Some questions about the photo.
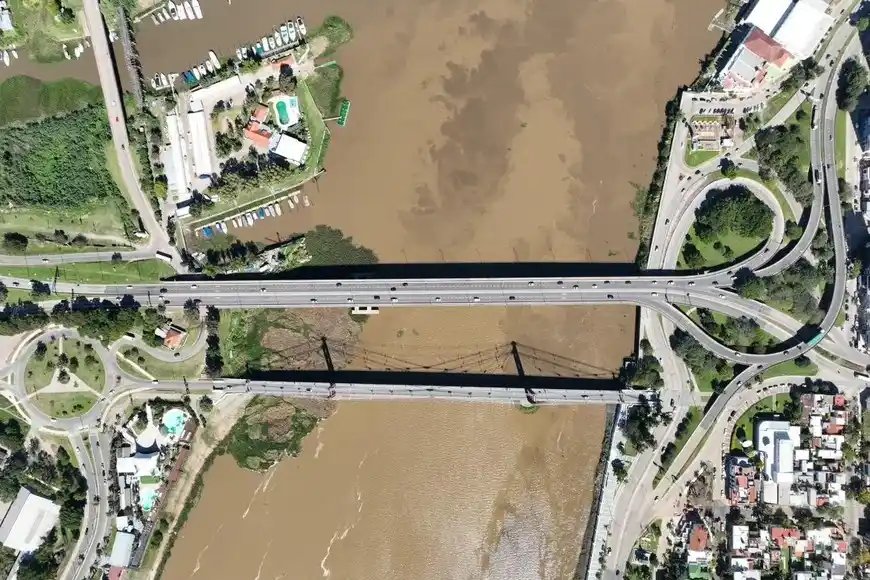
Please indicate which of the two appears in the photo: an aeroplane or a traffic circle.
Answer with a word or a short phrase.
traffic circle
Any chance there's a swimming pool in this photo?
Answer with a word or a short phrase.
Yes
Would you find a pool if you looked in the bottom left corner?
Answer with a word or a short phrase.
Yes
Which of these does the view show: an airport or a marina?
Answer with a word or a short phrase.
marina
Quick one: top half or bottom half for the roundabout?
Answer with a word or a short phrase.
bottom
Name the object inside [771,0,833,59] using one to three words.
building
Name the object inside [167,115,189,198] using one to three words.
shed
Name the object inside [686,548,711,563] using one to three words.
house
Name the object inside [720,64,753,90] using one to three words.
building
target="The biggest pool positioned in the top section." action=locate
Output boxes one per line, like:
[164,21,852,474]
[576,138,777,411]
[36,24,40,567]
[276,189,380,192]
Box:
[274,96,299,128]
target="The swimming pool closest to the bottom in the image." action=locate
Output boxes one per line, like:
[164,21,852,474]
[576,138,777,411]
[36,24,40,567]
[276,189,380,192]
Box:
[139,484,162,511]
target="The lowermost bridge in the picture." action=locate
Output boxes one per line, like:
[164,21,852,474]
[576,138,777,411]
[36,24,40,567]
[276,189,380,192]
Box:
[240,374,650,406]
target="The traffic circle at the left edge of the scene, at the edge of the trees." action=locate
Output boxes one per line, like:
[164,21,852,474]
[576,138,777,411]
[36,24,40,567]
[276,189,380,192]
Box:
[14,326,116,428]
